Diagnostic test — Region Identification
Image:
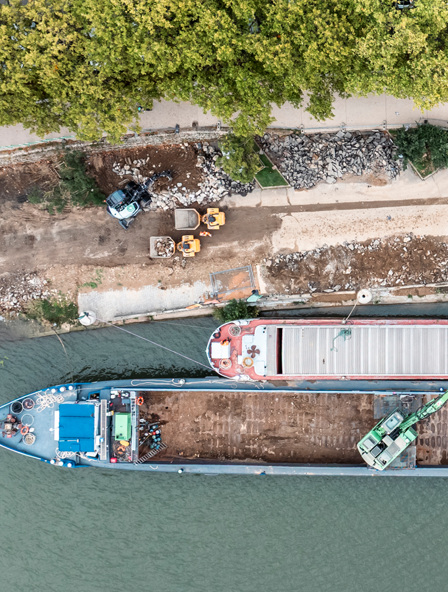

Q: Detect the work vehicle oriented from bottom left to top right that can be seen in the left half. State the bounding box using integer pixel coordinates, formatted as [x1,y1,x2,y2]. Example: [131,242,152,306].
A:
[91,160,166,233]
